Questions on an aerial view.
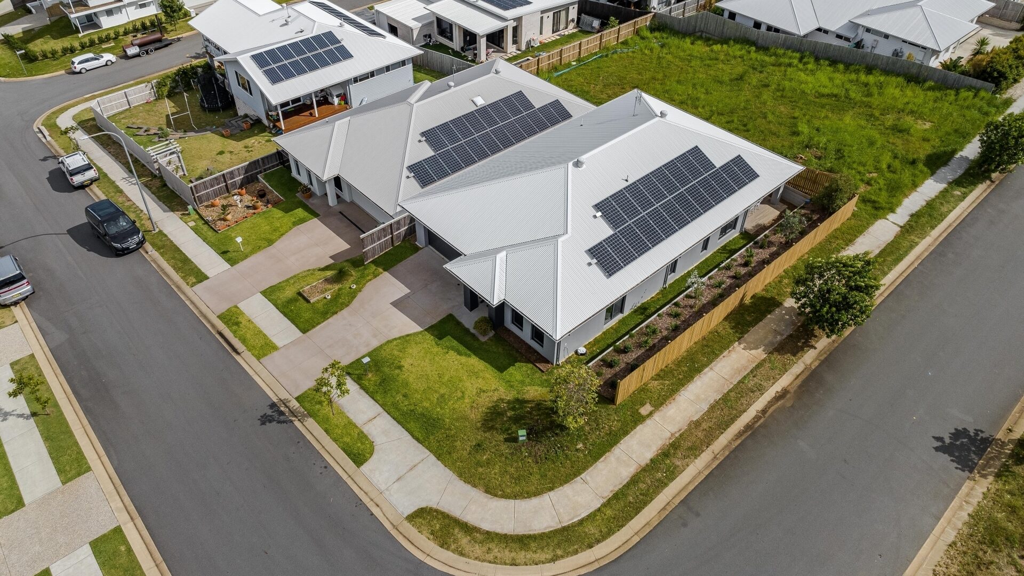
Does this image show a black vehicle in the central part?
No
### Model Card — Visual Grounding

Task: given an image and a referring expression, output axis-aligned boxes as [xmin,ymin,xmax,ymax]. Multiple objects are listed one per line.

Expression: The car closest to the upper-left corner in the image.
[67,53,118,75]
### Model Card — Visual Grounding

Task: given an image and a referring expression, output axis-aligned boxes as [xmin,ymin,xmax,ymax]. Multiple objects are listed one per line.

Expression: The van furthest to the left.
[0,249,37,311]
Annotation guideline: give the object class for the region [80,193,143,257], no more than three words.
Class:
van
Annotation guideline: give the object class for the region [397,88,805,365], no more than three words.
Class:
house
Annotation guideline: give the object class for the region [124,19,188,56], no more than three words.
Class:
trailer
